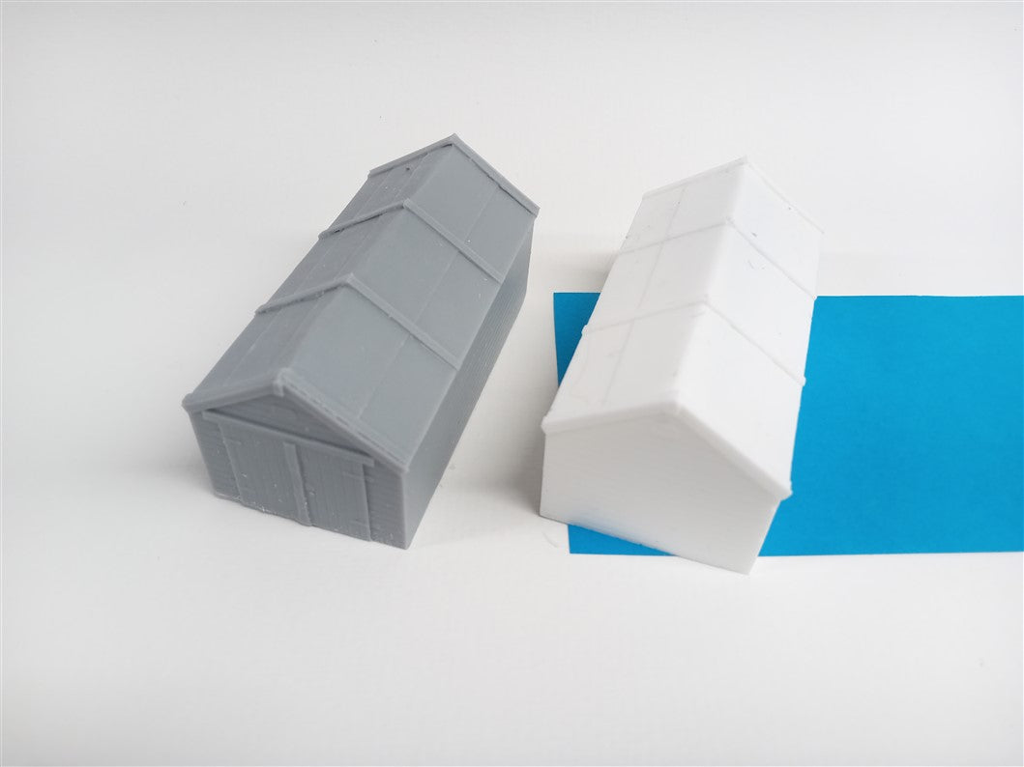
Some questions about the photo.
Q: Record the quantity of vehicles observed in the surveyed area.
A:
0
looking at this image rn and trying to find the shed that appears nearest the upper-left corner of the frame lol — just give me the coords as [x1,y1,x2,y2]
[181,133,542,548]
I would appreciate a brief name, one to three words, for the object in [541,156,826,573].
shed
